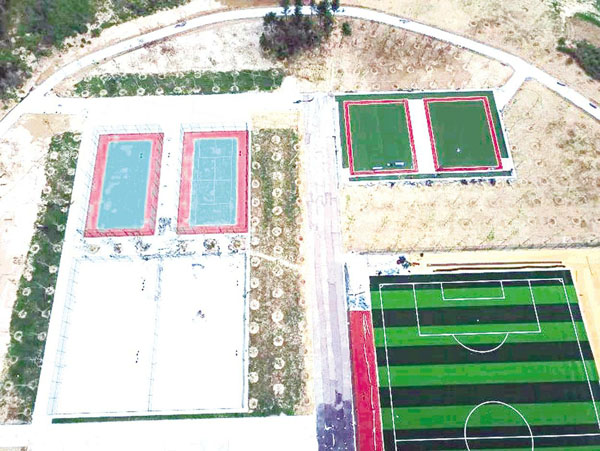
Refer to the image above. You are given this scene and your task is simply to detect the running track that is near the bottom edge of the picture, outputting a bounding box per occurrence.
[343,308,385,451]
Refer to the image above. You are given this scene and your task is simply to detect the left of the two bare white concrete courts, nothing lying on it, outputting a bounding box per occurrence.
[51,257,158,415]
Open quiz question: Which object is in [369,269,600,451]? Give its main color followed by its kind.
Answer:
green soccer field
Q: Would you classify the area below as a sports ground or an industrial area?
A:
sports ground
